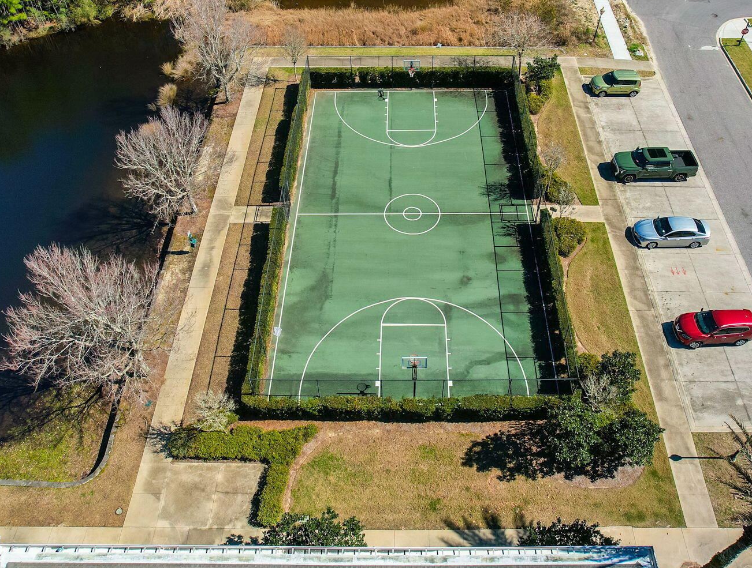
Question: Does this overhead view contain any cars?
Yes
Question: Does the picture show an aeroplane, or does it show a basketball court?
basketball court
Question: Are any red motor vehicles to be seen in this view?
Yes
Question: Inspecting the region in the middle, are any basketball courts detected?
Yes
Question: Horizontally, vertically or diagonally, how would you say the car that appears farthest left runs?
horizontally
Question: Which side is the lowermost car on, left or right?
right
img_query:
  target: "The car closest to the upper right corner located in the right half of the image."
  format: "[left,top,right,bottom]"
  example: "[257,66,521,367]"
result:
[590,71,644,98]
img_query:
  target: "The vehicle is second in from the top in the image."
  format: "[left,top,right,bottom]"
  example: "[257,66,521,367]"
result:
[612,150,703,187]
